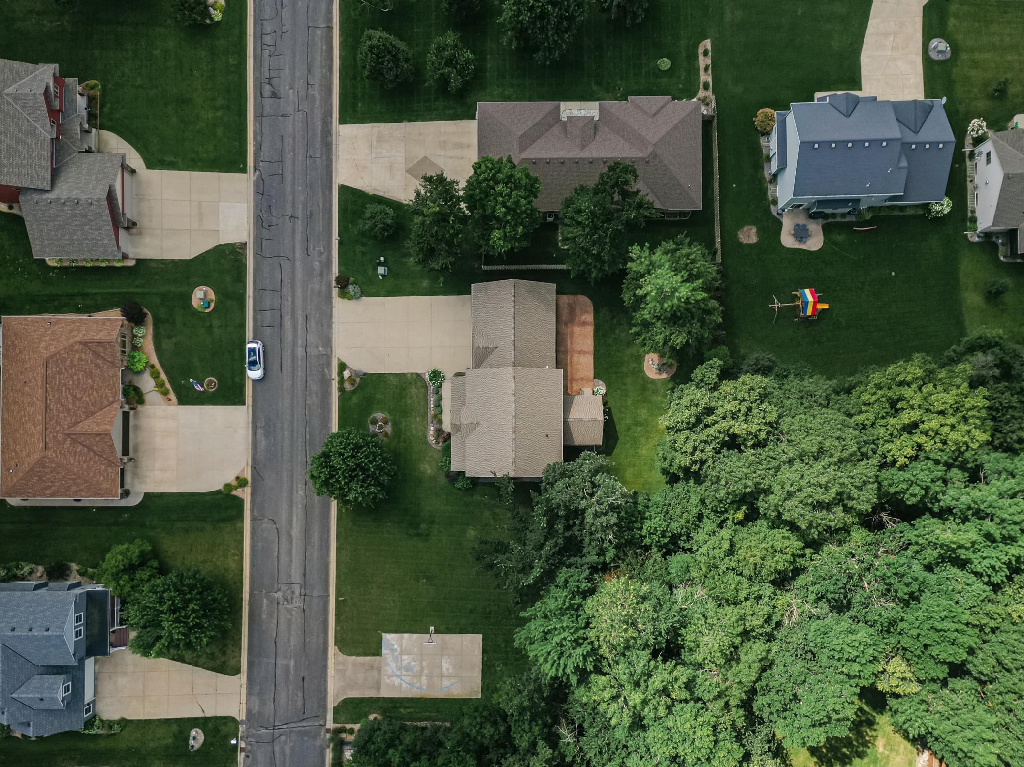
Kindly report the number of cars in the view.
1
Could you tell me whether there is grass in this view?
Yes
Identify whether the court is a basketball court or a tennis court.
basketball court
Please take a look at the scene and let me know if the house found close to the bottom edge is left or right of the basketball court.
on its left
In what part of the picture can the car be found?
left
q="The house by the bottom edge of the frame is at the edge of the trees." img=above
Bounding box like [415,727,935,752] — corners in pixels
[0,580,132,737]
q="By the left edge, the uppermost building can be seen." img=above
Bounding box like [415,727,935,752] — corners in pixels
[0,58,138,262]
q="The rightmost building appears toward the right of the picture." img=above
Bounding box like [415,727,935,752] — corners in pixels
[963,128,1024,254]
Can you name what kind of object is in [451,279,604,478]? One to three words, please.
house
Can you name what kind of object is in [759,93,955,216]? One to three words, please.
house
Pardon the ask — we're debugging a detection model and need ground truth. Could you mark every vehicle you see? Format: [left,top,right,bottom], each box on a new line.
[245,339,266,379]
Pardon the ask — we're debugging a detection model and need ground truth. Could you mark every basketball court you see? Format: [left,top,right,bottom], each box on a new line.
[381,633,485,698]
